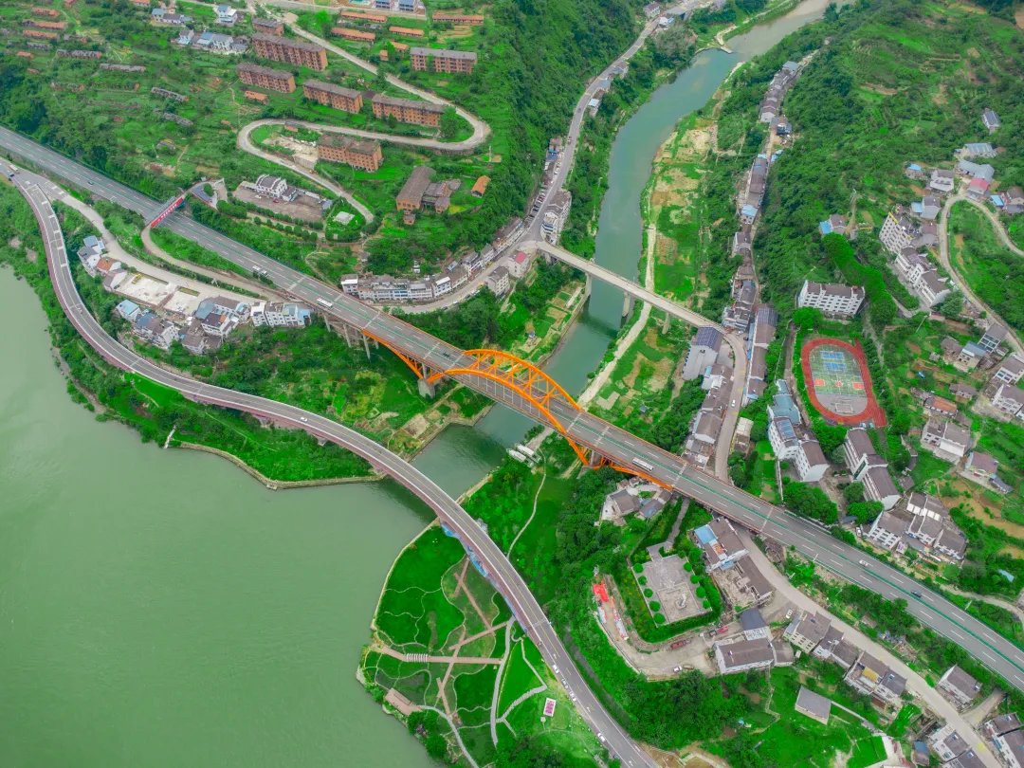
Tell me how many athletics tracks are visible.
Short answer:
1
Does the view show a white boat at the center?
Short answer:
Yes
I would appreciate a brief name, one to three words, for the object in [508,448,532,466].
boat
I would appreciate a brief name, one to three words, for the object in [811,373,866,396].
basketball court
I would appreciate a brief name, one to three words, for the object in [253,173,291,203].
building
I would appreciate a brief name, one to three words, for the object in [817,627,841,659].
house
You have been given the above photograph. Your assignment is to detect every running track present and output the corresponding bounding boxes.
[801,338,887,426]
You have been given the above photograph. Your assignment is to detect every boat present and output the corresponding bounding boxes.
[517,444,540,460]
[508,448,532,466]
